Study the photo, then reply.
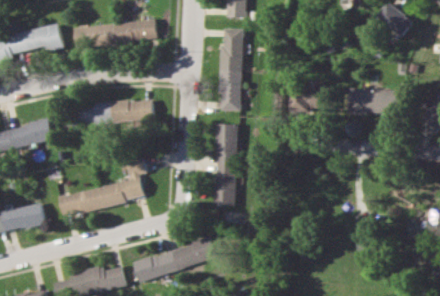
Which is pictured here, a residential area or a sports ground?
residential area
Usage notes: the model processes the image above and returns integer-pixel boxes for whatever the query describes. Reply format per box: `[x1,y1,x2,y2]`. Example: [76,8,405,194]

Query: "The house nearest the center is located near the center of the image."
[218,124,239,206]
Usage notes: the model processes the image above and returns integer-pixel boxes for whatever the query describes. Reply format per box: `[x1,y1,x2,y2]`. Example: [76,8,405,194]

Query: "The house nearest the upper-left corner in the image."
[0,26,64,62]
